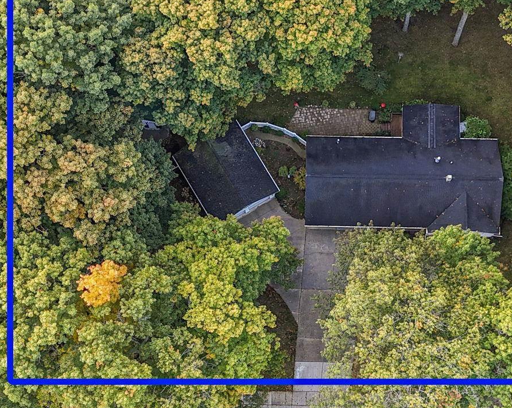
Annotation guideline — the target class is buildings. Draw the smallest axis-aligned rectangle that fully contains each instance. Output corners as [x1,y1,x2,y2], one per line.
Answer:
[173,122,280,226]
[305,103,505,240]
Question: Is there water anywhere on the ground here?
No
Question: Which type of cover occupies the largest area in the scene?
trees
